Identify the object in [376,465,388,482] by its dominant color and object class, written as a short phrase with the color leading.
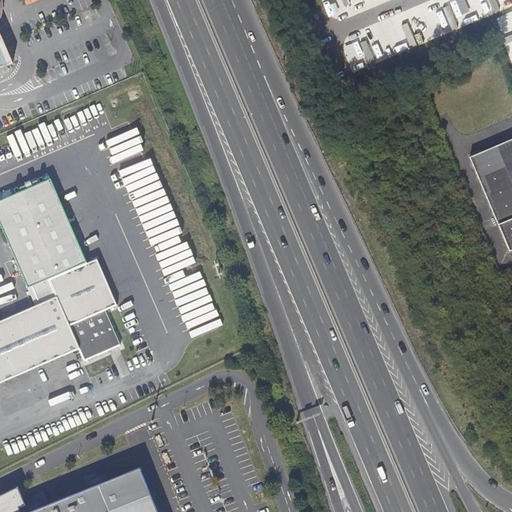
white vehicle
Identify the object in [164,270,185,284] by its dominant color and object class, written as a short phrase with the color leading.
white vehicle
